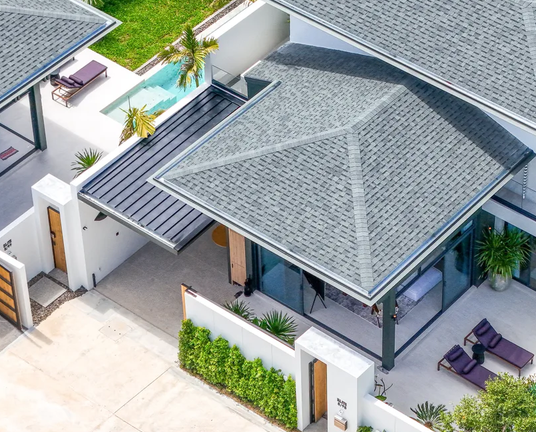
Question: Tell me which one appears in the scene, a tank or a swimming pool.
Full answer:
I can see a swimming pool in this picture.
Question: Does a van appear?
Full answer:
No, the picture doesn't show any van.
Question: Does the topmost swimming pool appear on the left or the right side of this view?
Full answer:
The topmost swimming pool sits on the left side.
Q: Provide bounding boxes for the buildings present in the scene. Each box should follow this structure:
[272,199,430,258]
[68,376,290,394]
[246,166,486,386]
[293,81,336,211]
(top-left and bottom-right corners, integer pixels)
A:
[0,0,122,181]
[80,0,536,372]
